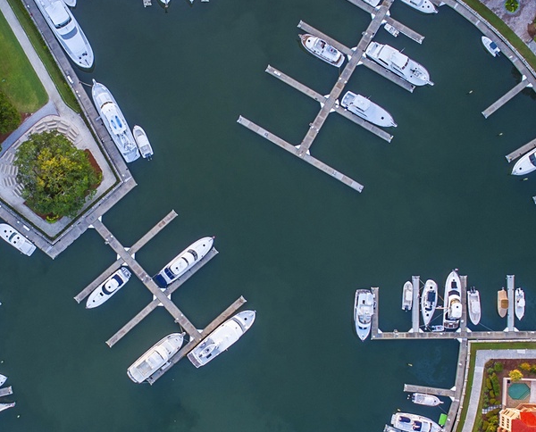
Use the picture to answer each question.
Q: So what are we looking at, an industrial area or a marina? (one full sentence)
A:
This looks like a marina.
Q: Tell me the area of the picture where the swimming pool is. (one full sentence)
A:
Look in the bottom right portion of the view to spot the swimming pool.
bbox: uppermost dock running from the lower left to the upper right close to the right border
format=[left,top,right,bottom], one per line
[481,75,533,118]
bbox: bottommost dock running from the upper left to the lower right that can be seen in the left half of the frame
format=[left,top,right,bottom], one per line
[91,218,203,344]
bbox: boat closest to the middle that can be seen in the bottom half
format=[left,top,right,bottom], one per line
[156,235,216,287]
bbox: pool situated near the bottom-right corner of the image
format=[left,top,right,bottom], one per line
[499,378,536,409]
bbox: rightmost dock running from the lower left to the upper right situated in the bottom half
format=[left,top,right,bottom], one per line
[195,296,247,339]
